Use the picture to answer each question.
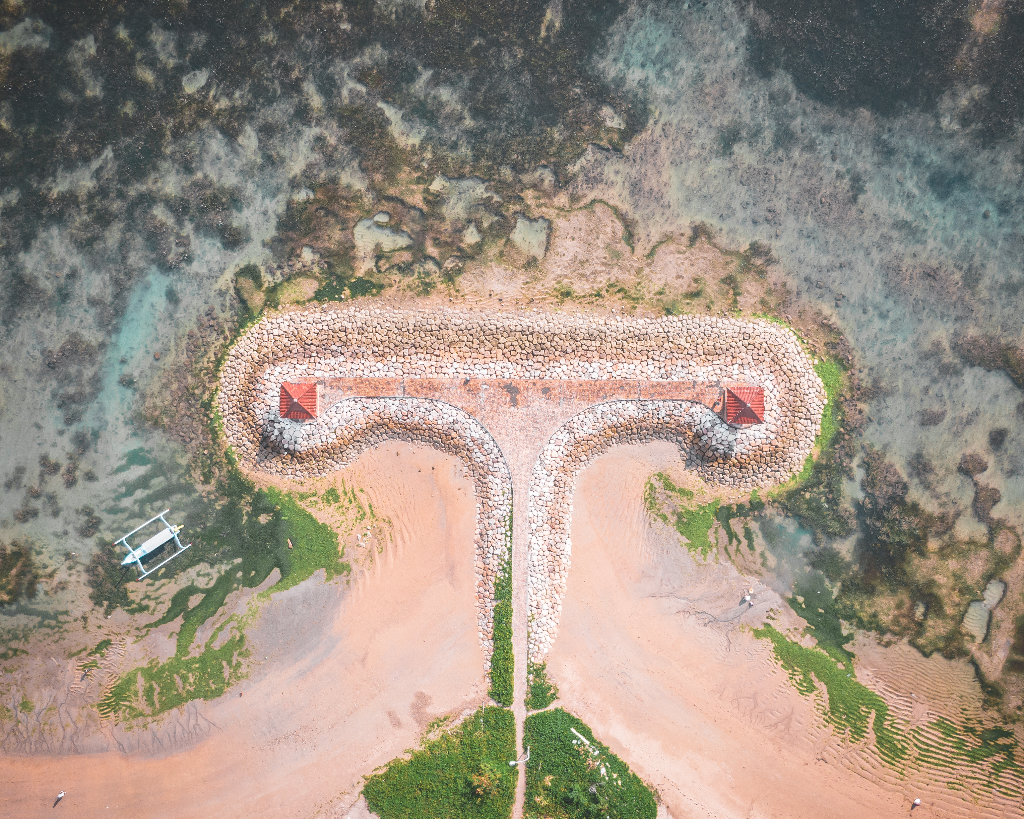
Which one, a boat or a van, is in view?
boat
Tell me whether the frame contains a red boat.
No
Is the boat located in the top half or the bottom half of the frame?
bottom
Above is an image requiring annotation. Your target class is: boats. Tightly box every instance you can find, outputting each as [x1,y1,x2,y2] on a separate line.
[112,508,193,582]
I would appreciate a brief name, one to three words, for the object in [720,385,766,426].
gazebo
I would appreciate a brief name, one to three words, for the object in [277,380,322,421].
gazebo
